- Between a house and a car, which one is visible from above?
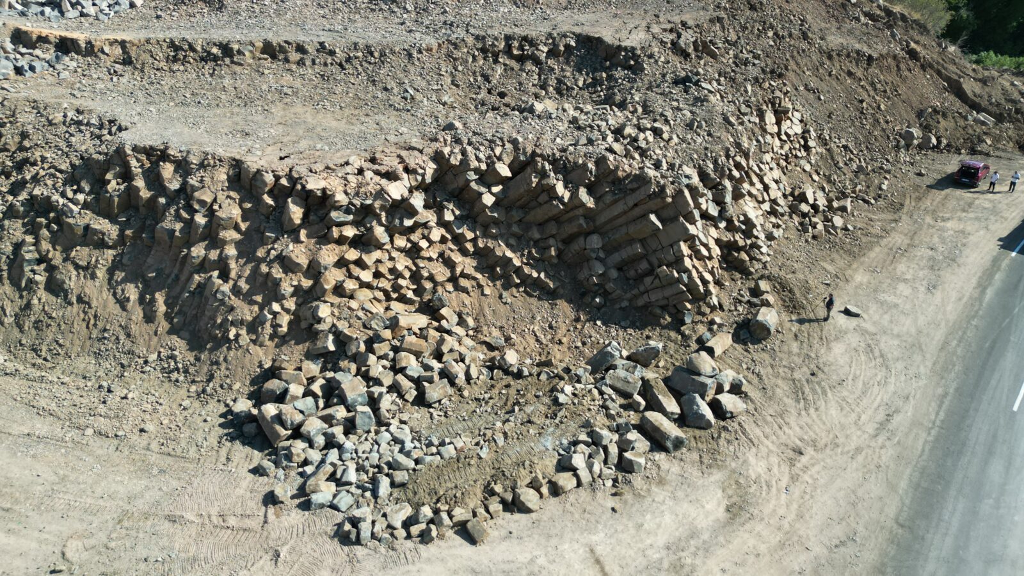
car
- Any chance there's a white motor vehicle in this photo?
No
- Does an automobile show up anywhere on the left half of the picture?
No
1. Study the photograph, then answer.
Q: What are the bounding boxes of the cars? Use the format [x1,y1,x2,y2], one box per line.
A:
[955,161,995,187]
